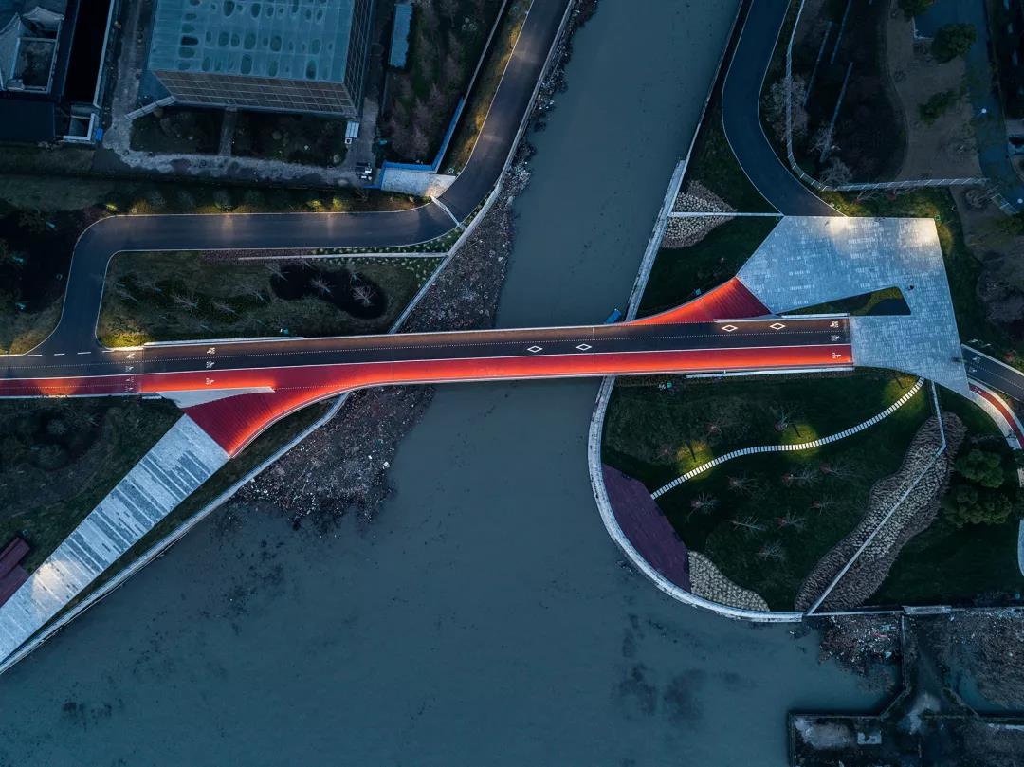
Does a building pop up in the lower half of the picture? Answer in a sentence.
No, in the lower half of the picture there is no building.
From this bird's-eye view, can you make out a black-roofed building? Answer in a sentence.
Yes, there's a black-roofed building here.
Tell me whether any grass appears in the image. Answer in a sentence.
Yes, grass can be seen from above here.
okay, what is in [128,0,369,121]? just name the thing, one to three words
building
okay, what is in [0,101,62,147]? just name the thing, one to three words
building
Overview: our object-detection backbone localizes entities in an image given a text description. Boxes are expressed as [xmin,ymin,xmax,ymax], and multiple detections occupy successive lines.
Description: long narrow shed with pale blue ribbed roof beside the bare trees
[390,3,415,72]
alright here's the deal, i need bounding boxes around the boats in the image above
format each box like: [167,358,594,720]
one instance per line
[607,308,622,323]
